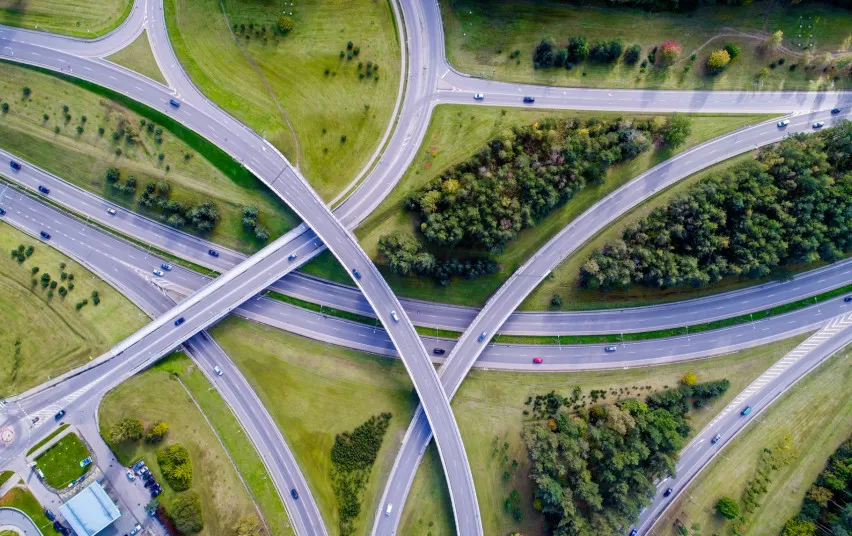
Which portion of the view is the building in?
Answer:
bottom left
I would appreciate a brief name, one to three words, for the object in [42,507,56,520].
vehicle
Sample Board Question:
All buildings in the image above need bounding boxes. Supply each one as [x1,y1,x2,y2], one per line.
[58,479,123,536]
